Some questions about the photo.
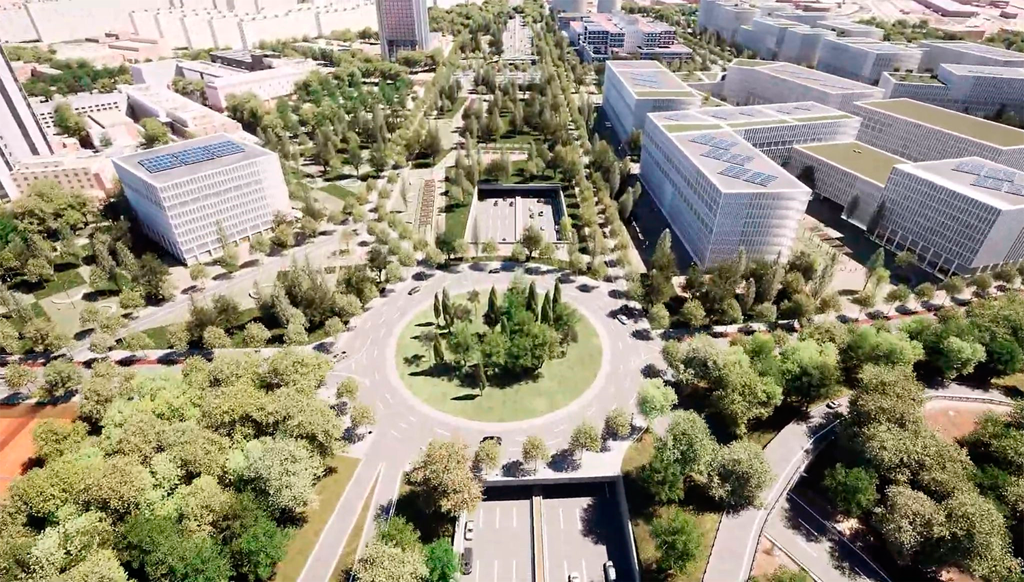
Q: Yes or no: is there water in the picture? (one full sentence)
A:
No, there's no water in this view.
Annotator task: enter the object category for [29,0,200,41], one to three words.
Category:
building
